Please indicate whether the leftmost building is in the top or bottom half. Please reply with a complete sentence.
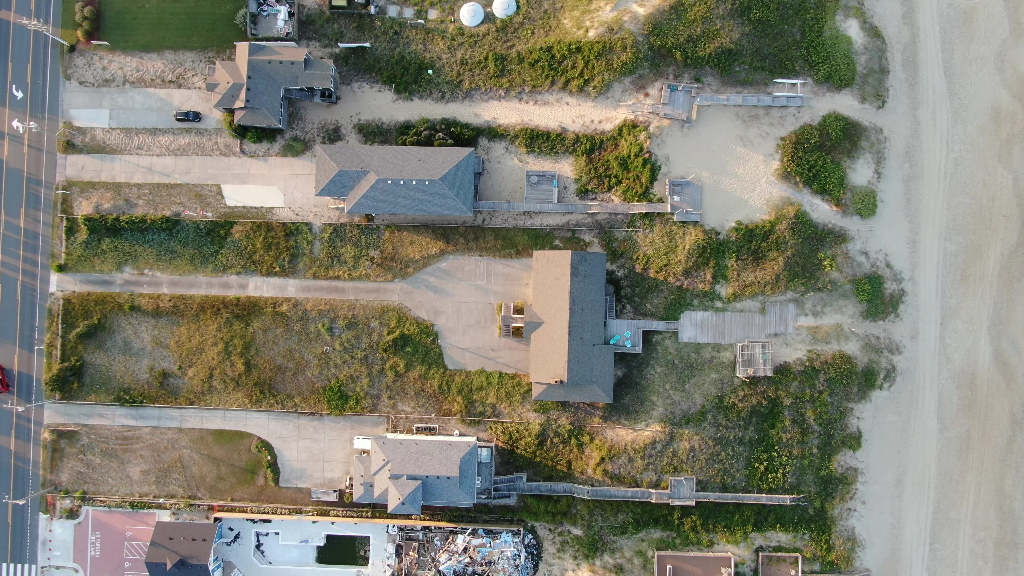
The leftmost building sits in the bottom half of the picture.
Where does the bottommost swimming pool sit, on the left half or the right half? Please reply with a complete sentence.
It is on the left.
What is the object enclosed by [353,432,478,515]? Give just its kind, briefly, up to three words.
house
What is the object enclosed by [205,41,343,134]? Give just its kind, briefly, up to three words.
house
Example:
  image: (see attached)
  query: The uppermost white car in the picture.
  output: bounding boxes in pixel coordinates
[347,437,371,452]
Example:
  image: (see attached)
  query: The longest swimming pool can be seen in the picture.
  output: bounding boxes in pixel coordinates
[252,529,372,571]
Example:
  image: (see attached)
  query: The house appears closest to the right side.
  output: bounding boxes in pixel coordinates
[523,250,615,404]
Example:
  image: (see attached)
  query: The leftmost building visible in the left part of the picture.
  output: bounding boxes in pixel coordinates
[144,520,231,576]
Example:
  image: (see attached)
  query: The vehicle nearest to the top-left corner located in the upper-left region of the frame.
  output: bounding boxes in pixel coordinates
[172,108,200,122]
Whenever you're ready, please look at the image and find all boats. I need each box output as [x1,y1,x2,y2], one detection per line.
[773,79,808,96]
